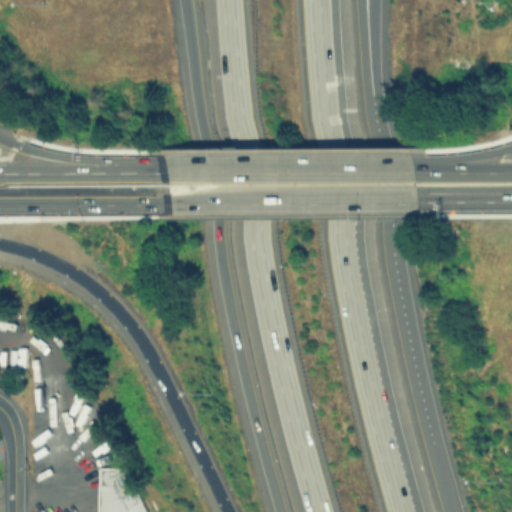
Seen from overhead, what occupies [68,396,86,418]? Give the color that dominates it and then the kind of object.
white vehicle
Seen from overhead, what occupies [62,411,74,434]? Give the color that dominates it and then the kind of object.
white vehicle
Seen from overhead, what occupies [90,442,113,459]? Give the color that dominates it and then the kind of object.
white camper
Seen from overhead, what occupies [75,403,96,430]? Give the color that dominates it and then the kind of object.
white camper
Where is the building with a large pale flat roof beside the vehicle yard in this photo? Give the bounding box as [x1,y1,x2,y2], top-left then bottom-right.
[98,468,152,512]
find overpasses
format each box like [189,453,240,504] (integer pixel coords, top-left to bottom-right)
[164,149,418,219]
